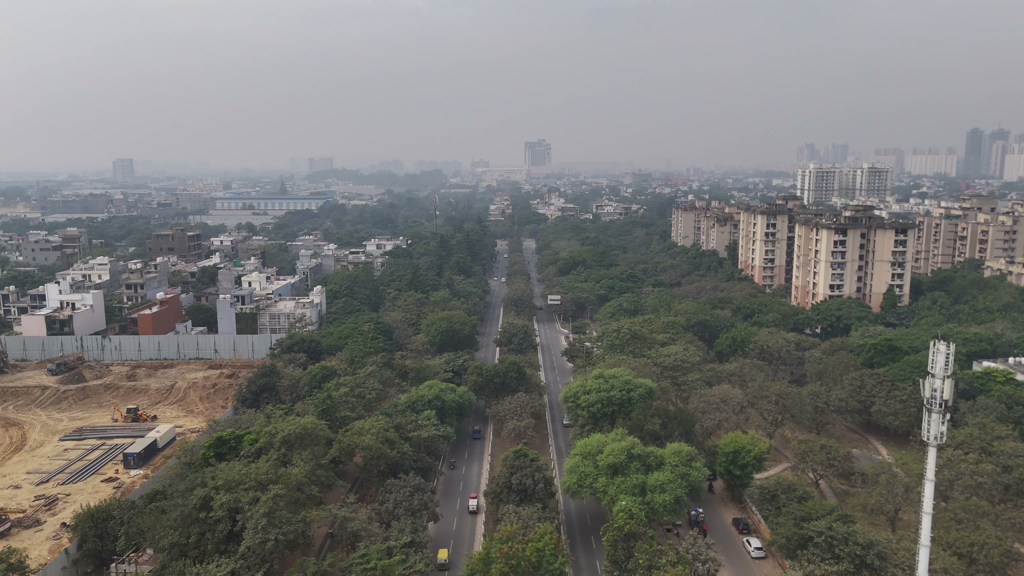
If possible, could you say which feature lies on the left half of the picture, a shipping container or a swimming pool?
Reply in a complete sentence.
The one visible on the left half of the picture is a shipping container.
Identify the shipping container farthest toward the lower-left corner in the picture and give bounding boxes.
[120,437,157,468]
